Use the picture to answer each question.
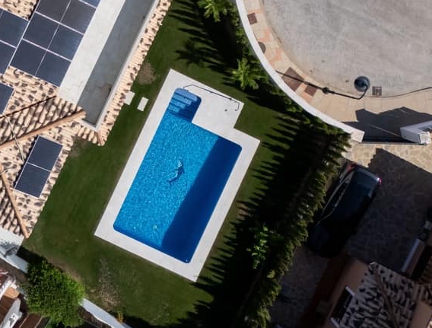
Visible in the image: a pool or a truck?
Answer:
pool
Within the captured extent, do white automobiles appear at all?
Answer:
No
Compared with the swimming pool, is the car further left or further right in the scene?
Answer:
on its right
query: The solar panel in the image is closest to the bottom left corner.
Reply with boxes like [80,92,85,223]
[14,137,62,197]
